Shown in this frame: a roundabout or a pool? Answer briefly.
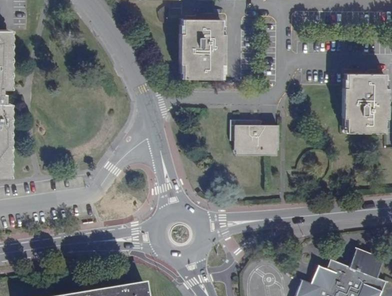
roundabout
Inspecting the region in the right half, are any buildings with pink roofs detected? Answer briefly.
No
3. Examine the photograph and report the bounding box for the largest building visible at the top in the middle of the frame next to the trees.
[178,20,228,80]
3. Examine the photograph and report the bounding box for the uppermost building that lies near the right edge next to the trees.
[340,75,391,134]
